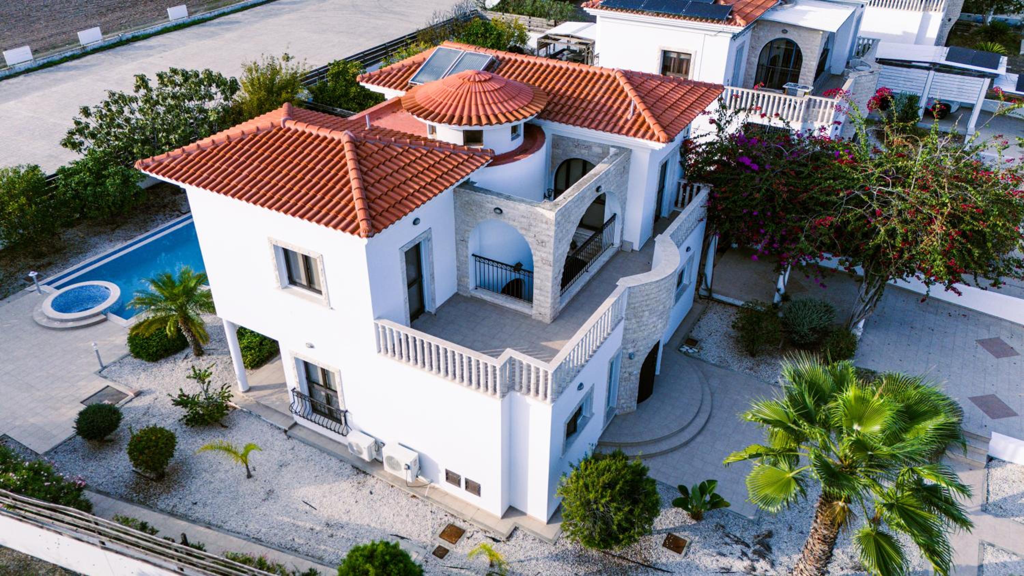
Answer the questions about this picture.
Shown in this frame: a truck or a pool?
pool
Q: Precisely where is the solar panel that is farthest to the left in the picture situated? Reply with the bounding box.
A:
[408,45,494,84]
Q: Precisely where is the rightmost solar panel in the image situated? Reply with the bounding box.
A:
[951,46,1006,72]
